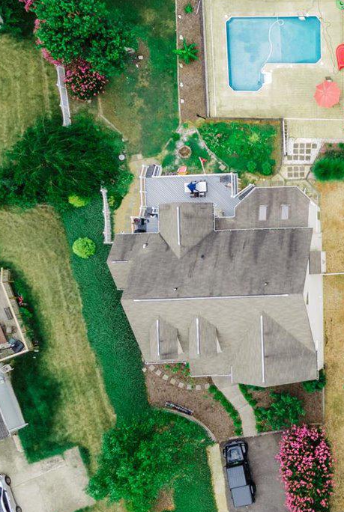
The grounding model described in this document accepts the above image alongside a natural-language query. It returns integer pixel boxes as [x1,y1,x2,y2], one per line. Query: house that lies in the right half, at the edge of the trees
[108,186,329,387]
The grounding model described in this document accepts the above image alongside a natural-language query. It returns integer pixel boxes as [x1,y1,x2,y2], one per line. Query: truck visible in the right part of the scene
[223,437,259,507]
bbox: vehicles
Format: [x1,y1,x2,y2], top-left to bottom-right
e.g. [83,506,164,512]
[0,470,23,512]
[223,437,259,507]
